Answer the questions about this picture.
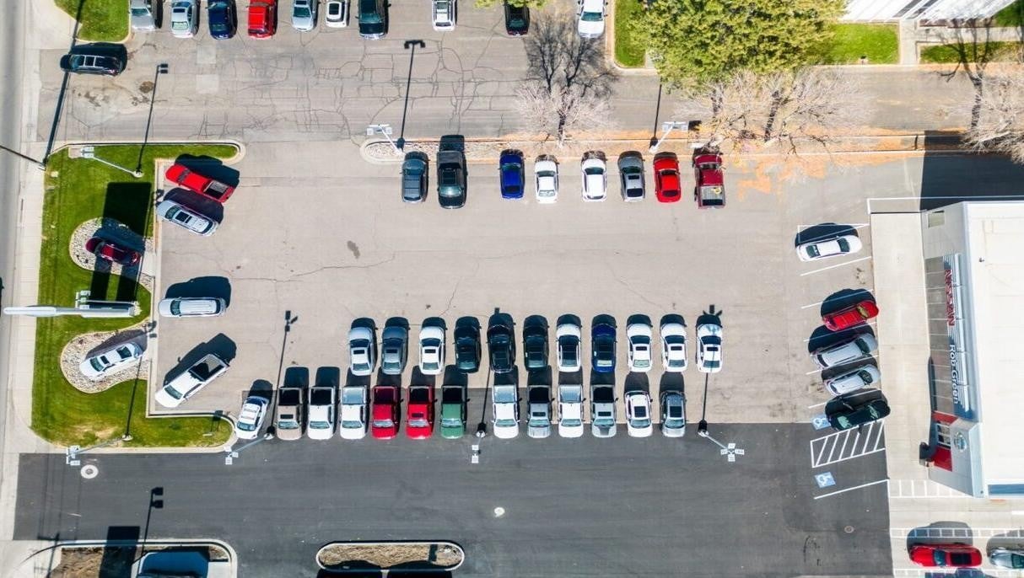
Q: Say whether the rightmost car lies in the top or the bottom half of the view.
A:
bottom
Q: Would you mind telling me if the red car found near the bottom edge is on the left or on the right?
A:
right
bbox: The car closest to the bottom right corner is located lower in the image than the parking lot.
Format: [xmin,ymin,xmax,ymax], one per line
[984,548,1024,572]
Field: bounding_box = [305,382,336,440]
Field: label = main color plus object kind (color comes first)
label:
white truck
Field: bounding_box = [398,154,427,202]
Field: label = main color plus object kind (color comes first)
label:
blue car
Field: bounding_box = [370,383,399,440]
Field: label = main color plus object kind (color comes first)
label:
red truck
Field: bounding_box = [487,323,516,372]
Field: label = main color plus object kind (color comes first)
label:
black car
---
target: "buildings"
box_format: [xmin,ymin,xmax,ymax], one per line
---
[831,0,1024,25]
[923,199,1024,500]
